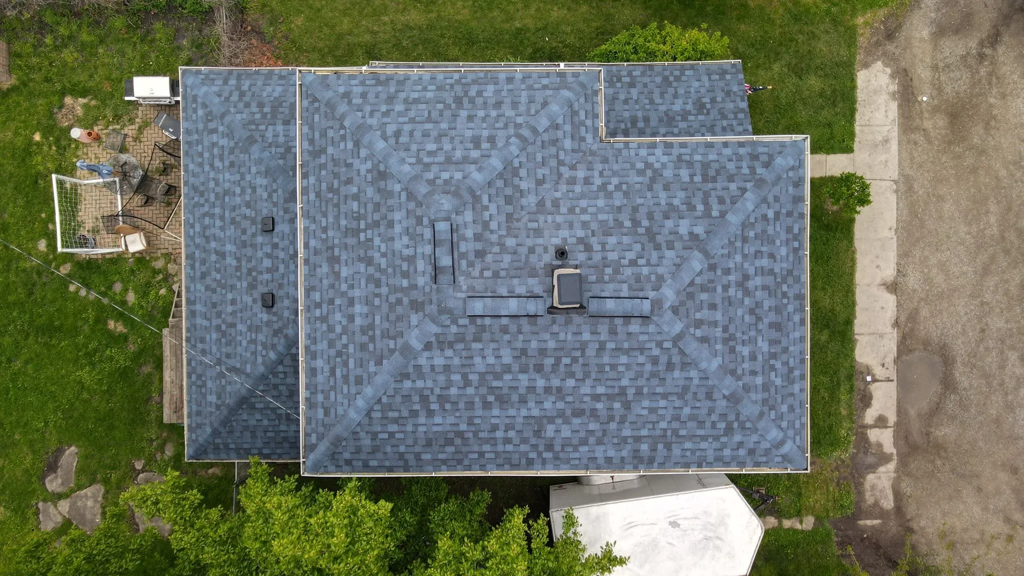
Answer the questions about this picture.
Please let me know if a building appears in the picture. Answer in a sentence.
Yes, there's a building here.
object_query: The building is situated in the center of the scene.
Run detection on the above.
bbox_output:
[179,61,809,475]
